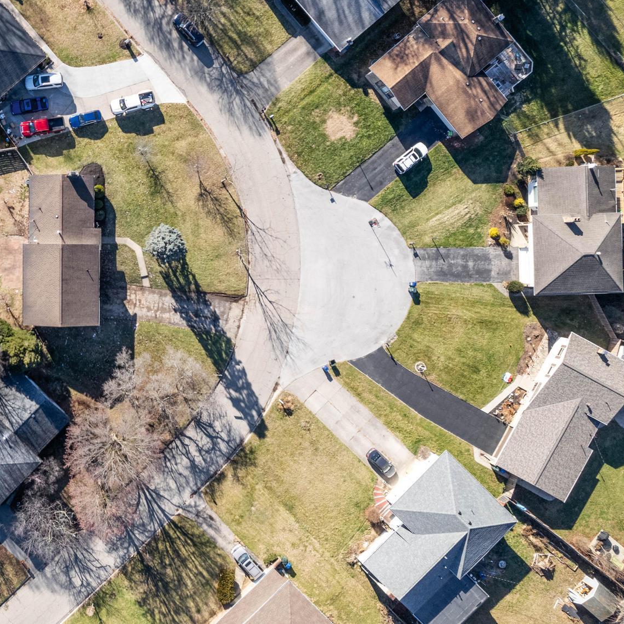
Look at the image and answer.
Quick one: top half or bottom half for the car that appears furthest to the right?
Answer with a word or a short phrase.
top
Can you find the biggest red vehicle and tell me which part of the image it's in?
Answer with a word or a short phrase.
top left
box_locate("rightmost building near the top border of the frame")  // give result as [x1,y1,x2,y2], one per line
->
[365,0,514,140]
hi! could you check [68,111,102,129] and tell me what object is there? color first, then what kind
blue car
